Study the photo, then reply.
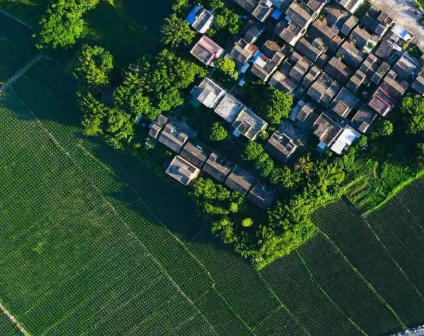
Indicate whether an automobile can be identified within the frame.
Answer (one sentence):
No, this view has no automobile in it.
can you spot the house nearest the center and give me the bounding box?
[200,150,234,180]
